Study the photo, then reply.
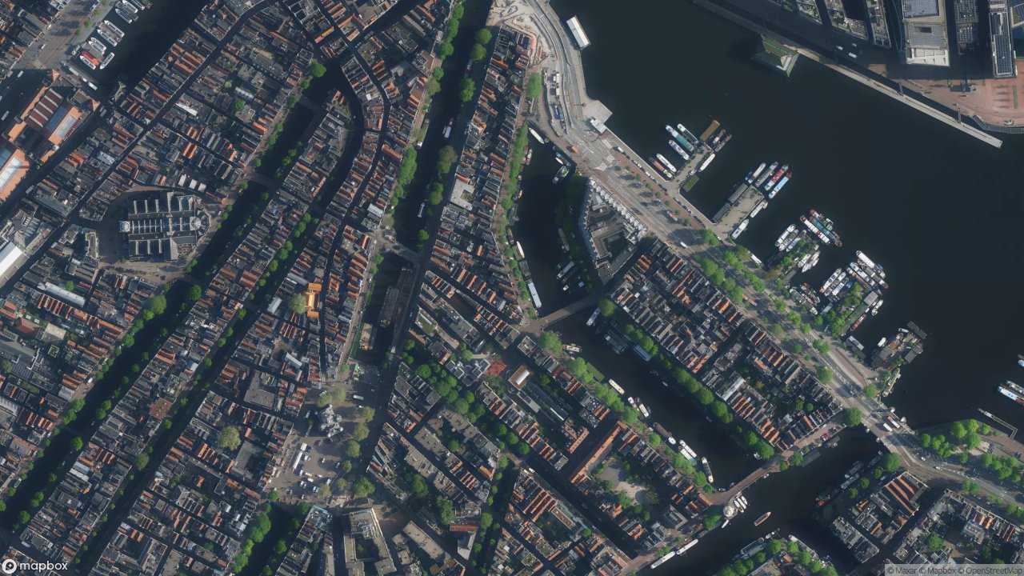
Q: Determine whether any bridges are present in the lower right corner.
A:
Yes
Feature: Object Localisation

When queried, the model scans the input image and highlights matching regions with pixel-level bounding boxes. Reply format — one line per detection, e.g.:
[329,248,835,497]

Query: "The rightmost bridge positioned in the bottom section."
[866,399,913,453]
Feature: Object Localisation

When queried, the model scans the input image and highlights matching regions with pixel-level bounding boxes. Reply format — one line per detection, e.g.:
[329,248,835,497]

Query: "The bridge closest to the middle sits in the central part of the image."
[520,292,607,334]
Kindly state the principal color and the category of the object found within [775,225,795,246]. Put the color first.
white vessel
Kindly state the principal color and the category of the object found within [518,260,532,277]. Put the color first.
gray boat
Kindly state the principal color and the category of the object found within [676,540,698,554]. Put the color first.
white boat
